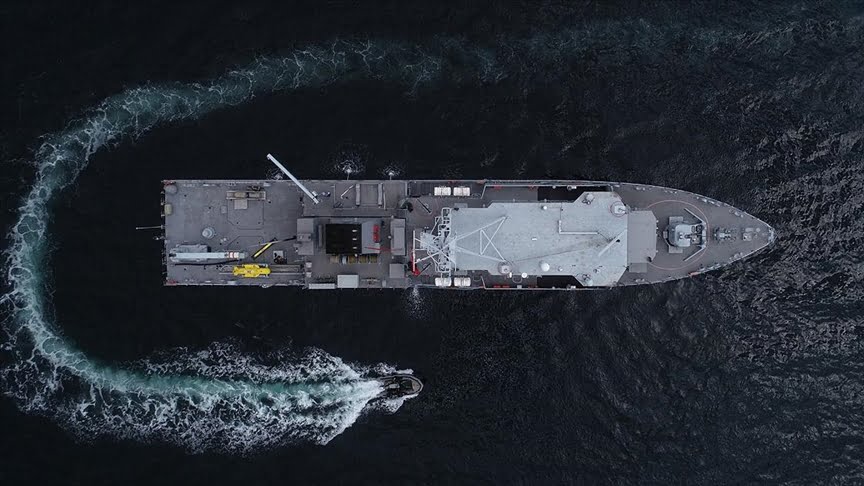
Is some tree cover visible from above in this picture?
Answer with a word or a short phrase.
No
